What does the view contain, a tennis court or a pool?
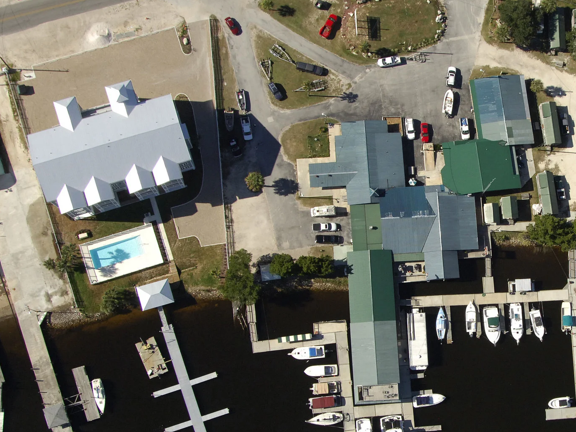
pool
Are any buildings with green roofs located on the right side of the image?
Yes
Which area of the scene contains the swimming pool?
left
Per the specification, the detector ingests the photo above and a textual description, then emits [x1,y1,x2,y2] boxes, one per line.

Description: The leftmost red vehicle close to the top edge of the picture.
[224,16,239,35]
